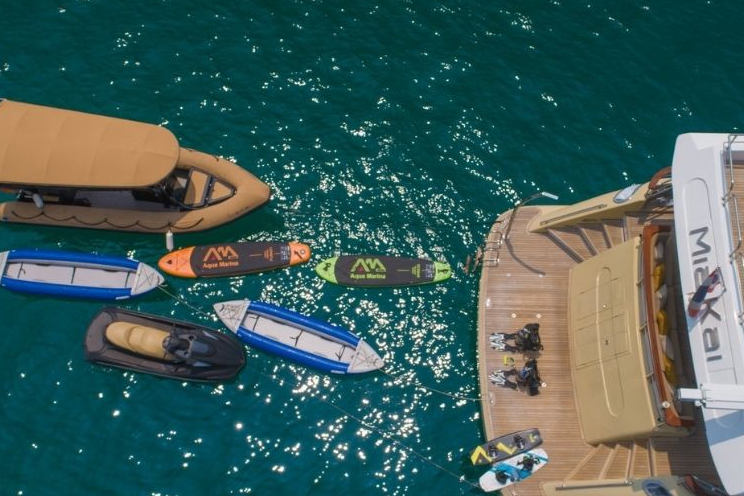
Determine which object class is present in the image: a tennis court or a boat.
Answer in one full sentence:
Looking from above, you can make out a boat.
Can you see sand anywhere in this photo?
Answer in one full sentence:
No, no sand is visible.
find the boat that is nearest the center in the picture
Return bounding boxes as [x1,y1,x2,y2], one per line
[214,298,383,370]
